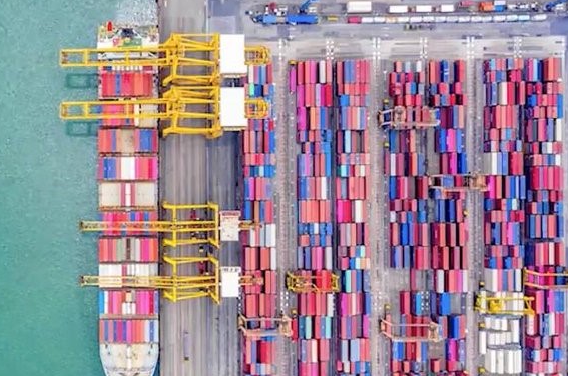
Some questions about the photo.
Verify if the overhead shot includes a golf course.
No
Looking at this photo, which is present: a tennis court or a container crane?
container crane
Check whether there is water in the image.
Yes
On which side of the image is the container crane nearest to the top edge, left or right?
left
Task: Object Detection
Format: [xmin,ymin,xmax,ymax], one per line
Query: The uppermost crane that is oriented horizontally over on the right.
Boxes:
[378,107,441,129]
